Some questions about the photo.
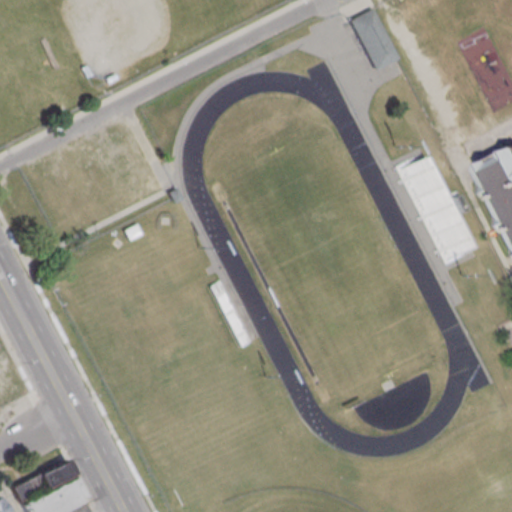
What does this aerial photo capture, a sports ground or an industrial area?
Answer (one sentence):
The area seen from above is a sports ground.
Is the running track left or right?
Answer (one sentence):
The running track sits on the right side.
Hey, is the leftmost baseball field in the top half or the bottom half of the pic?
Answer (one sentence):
The leftmost baseball field is in the top half of the image.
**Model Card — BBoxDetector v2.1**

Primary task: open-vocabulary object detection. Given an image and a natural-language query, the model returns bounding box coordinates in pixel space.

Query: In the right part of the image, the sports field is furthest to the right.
[202,92,450,438]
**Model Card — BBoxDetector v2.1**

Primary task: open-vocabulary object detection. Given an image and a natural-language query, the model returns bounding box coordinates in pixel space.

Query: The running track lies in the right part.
[182,62,490,459]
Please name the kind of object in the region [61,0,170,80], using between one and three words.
baseball field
